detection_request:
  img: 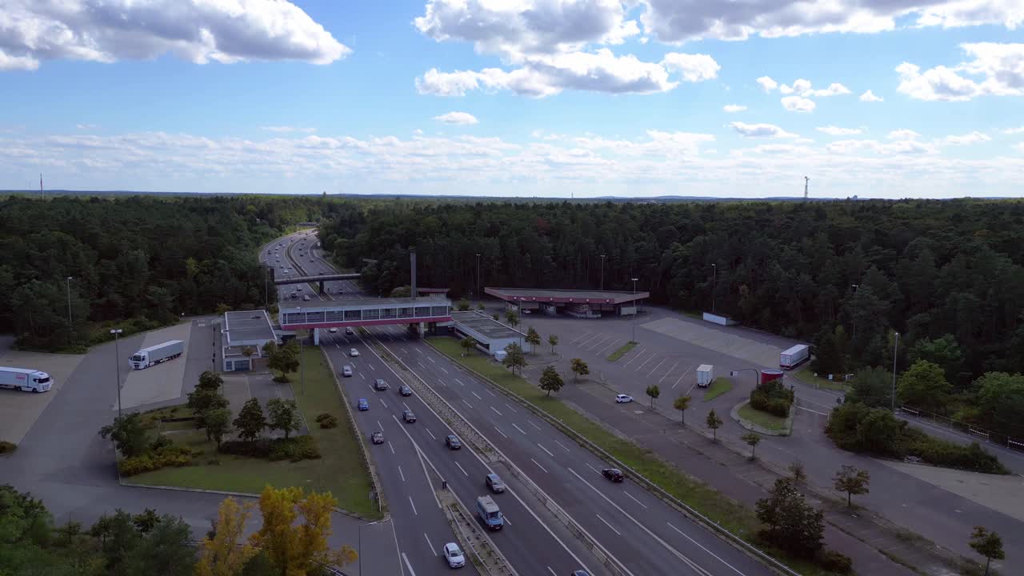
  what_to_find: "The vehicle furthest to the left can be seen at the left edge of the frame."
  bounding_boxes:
[0,366,54,391]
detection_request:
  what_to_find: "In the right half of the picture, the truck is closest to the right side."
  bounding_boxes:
[779,343,815,367]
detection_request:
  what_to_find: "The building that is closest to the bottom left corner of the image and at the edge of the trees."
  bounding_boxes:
[219,311,278,373]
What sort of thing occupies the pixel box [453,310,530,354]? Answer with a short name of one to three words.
building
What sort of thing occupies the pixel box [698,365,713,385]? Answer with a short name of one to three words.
vehicle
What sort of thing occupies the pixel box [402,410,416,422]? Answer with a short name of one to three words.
vehicle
